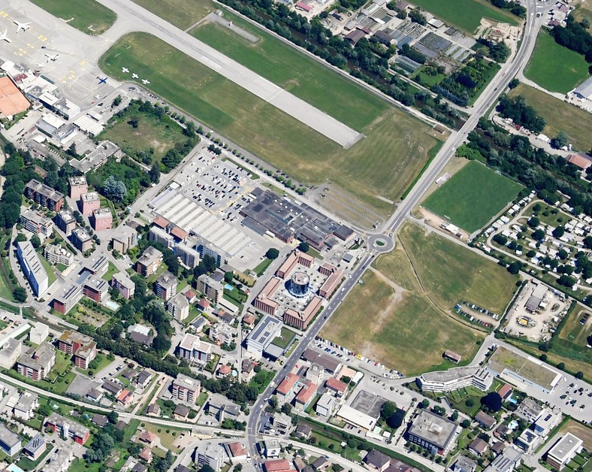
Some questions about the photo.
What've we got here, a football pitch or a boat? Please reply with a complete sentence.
Looking from above, you can make out a football pitch.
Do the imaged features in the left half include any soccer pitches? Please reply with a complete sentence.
No, there is no soccer pitch in the left half.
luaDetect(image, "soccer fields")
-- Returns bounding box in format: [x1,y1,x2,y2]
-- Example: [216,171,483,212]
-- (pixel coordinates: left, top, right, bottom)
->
[421,160,525,232]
